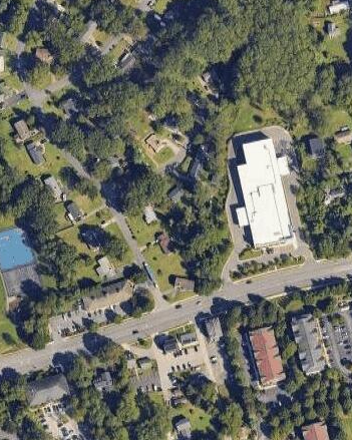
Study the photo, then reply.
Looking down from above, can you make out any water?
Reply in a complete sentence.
No, there is no water in the image.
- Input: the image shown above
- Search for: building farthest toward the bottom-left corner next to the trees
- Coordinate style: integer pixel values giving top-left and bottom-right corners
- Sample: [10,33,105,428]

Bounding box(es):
[25,374,69,407]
